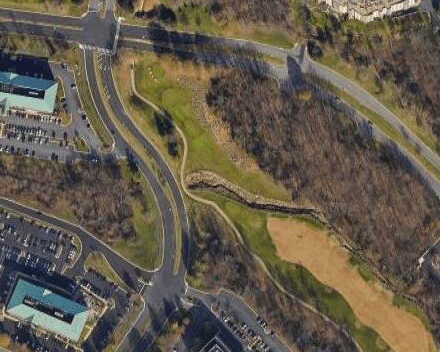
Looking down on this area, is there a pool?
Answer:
No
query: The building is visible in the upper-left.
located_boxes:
[0,70,58,113]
